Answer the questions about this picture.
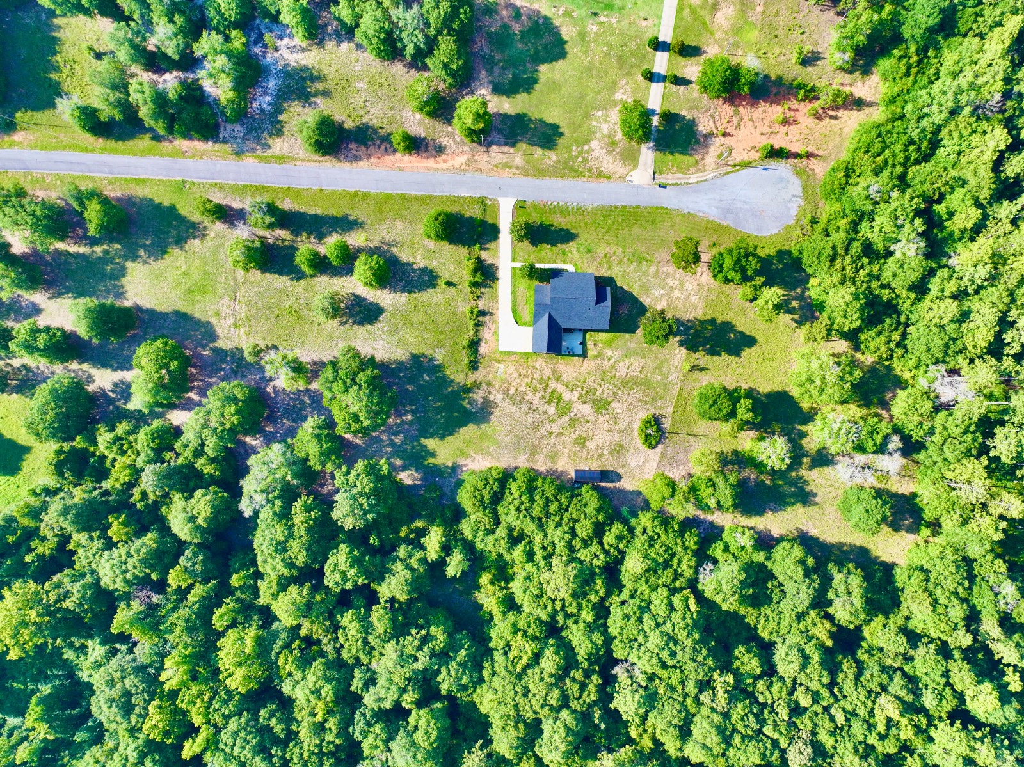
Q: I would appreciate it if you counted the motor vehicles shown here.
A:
0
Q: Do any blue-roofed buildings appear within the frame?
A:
Yes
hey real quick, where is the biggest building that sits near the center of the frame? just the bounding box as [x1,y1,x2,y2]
[532,271,611,353]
